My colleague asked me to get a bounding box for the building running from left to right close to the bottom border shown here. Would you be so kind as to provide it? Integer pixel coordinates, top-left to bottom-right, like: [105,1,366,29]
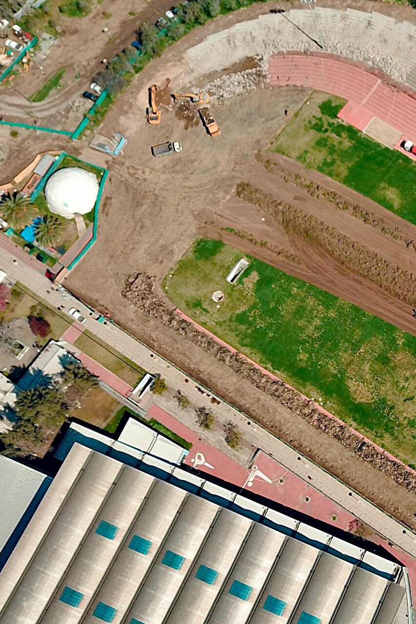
[0,422,414,624]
